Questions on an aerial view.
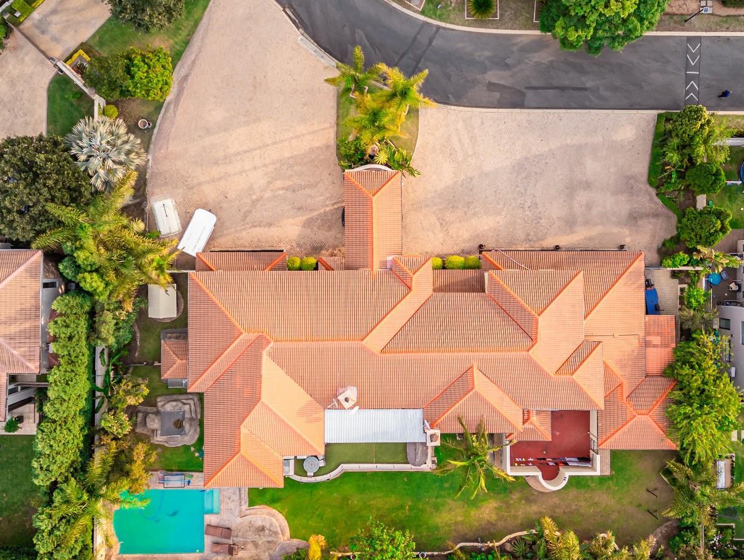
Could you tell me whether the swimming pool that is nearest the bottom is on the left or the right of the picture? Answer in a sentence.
You can find the swimming pool that is nearest the bottom on the left side of the picture.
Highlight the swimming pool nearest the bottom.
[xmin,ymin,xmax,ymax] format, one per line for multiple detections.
[110,487,221,557]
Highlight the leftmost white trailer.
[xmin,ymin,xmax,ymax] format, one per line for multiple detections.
[152,191,183,235]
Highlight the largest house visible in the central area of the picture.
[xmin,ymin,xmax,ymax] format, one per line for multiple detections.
[160,162,678,489]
